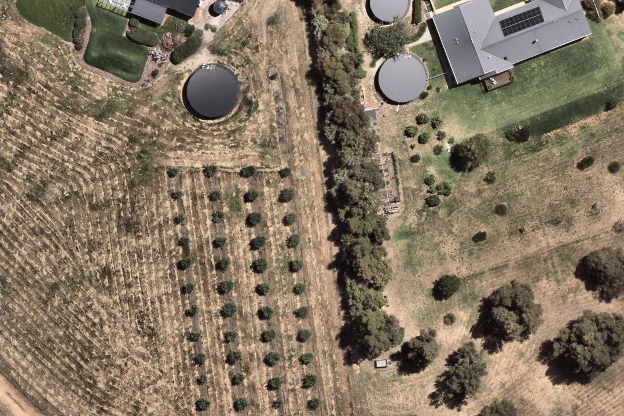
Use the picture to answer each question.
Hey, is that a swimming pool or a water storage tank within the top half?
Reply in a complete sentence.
The one visible within the top half is a water storage tank.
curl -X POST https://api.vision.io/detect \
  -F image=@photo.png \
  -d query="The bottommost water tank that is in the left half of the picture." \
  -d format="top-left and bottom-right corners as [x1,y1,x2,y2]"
[184,63,241,119]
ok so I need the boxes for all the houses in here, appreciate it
[433,0,594,84]
[130,0,199,24]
